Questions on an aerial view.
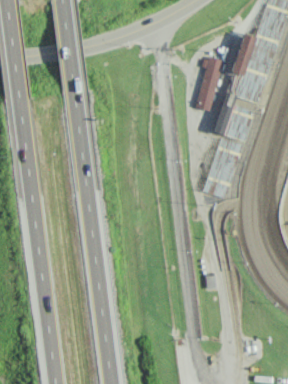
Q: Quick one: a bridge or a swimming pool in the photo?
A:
bridge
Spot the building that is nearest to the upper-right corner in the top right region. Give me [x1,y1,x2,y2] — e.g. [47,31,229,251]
[231,34,254,76]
